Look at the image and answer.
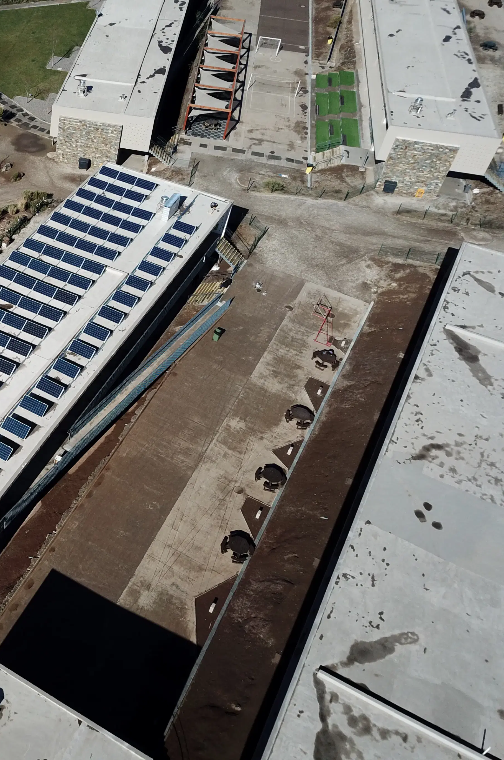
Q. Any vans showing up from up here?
No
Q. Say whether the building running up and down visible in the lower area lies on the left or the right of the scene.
right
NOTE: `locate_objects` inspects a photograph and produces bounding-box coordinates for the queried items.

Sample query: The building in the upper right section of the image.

[356,0,503,192]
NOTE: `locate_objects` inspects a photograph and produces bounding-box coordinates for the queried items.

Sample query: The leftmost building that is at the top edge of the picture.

[50,0,193,162]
